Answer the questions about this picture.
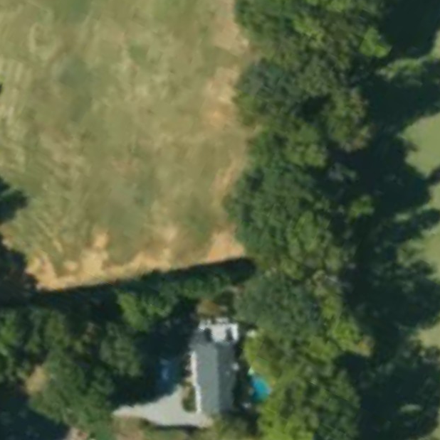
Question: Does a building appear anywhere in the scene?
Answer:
Yes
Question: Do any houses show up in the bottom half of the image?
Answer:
Yes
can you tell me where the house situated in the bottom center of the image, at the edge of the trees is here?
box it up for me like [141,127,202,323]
[196,347,238,416]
